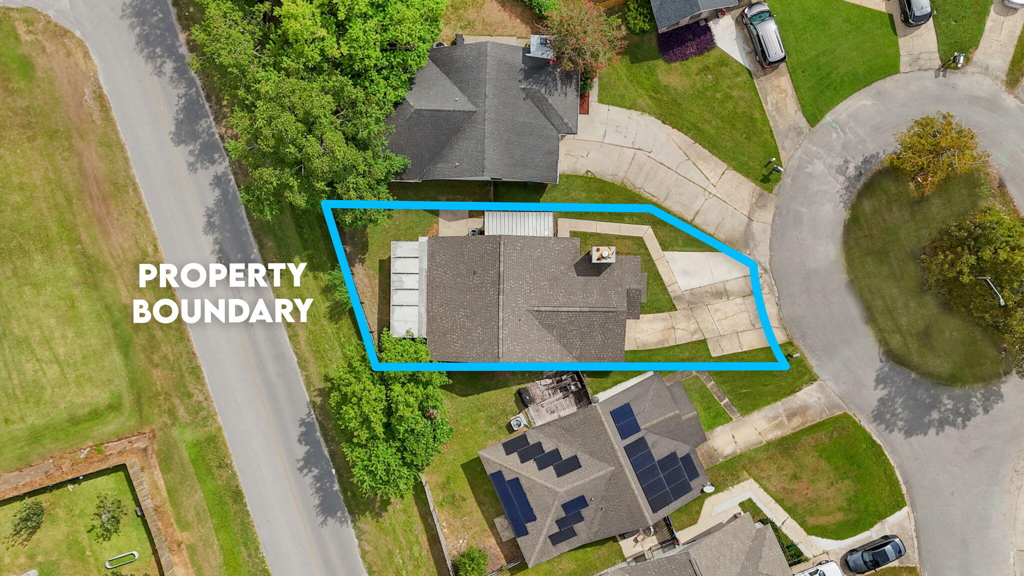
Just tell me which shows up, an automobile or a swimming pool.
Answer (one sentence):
This aerial view contains an automobile.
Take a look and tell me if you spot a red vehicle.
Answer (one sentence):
No, I can see no red vehicle in this picture.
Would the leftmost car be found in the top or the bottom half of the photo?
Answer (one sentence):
The leftmost car is in the top half of the image.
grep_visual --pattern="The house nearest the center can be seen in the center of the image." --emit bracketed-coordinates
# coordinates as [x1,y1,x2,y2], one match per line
[391,211,646,365]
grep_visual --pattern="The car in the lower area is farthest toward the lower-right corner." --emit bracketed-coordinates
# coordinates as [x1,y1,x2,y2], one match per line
[840,531,908,575]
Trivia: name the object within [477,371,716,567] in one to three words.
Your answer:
house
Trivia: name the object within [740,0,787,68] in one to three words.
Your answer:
car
